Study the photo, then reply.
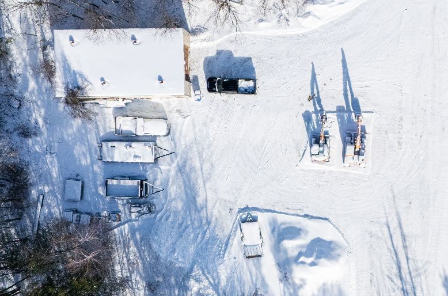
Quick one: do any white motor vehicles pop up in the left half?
Yes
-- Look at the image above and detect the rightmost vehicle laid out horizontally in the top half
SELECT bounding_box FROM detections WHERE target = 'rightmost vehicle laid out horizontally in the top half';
[206,76,259,96]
